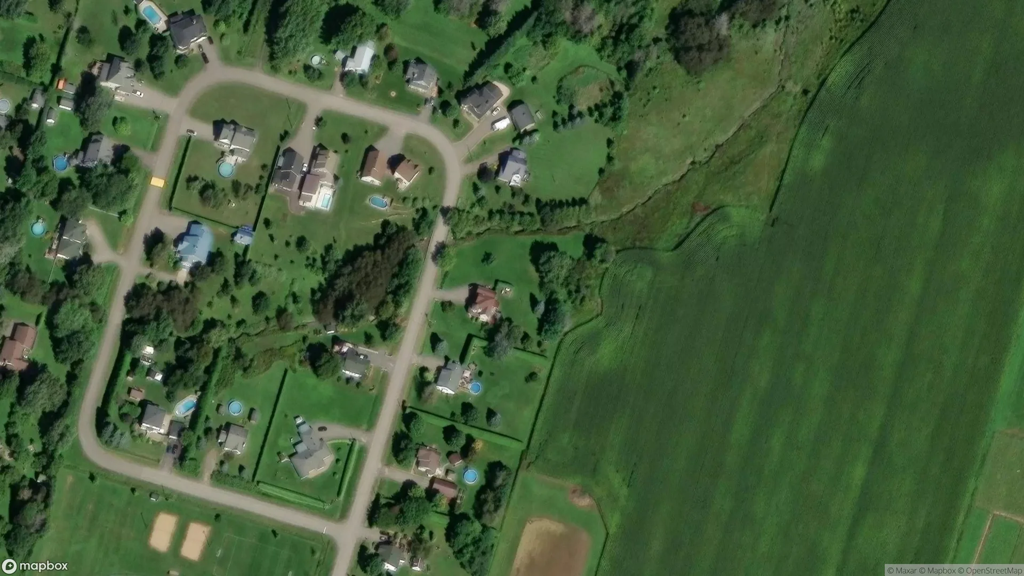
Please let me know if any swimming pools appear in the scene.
Yes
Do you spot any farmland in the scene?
Yes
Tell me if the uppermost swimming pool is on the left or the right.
left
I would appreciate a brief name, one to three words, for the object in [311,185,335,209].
swimming pool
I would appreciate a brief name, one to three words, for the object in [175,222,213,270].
house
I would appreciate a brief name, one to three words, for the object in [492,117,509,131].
camper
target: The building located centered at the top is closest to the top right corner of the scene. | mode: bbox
[509,102,535,132]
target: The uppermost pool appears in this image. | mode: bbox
[138,0,168,33]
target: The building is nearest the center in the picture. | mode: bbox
[467,286,500,330]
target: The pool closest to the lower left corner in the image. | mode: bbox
[175,396,197,417]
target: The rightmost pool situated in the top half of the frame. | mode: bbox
[368,195,388,210]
